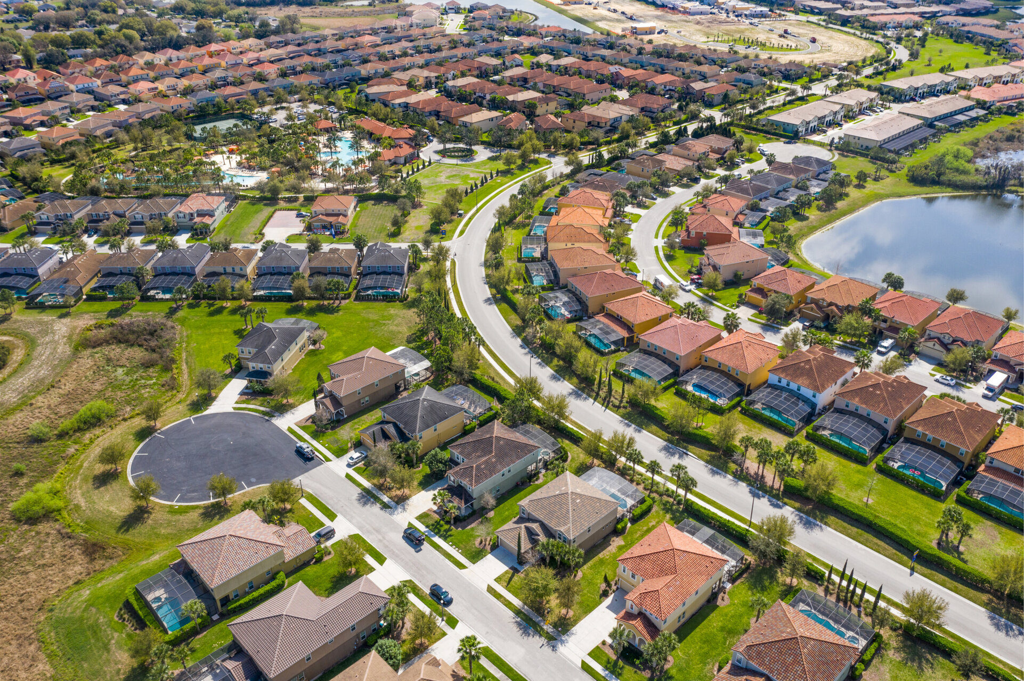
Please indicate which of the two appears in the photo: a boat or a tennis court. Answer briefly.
tennis court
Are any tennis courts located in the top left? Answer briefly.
Yes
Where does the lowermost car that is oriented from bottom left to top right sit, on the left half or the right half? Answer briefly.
left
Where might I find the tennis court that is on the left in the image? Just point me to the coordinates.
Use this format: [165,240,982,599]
[178,108,266,140]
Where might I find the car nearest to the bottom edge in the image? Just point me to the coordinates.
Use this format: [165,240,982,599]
[428,582,453,605]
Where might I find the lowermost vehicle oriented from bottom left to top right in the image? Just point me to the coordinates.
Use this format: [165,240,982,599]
[310,520,339,543]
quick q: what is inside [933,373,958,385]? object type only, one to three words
vehicle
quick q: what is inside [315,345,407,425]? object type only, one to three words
house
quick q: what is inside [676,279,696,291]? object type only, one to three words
vehicle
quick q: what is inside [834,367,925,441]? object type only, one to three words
house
